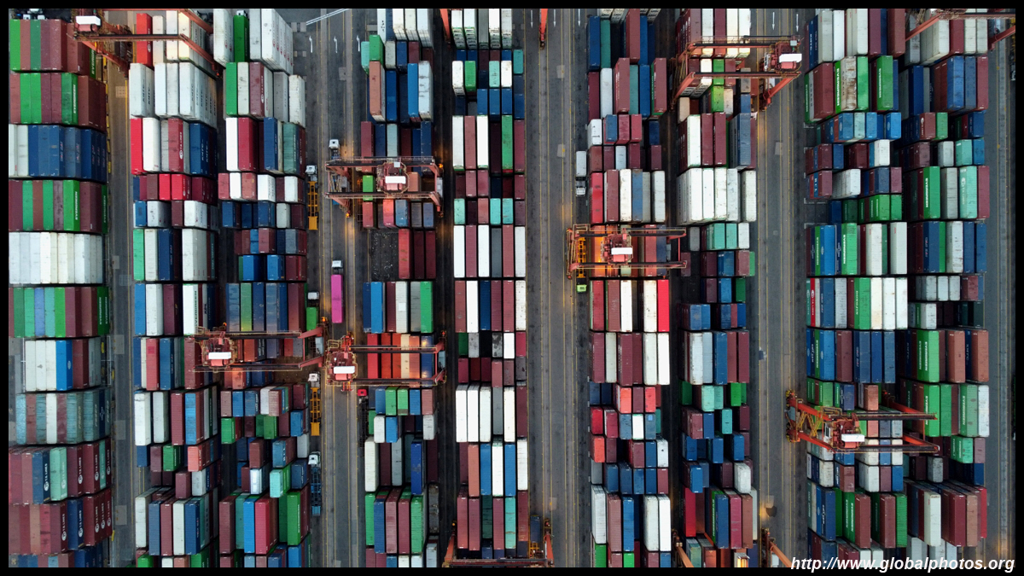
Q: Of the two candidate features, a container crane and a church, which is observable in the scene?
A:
container crane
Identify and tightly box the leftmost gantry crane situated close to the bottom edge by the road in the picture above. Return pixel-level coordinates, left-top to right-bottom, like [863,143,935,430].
[429,514,558,576]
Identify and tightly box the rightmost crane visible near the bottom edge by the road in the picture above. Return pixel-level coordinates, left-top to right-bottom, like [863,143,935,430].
[672,527,808,576]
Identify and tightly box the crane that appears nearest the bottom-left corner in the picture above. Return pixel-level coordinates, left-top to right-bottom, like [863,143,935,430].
[184,315,330,374]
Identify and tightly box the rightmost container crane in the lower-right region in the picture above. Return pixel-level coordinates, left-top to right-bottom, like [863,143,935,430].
[786,386,943,455]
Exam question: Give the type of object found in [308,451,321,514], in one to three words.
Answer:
vehicle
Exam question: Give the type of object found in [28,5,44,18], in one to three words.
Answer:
vehicle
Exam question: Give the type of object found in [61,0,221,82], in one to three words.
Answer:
container crane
